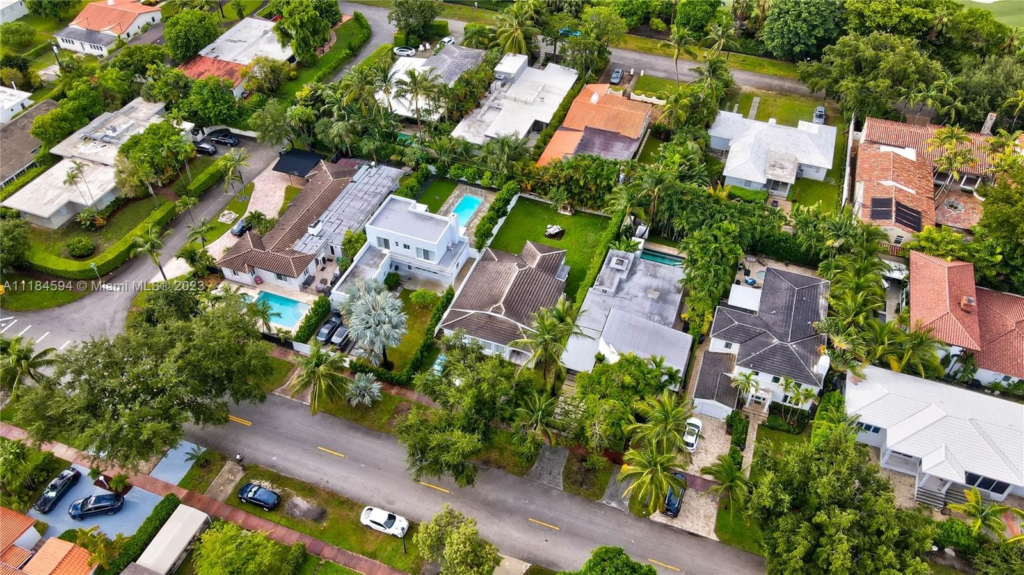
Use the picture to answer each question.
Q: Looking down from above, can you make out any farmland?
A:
No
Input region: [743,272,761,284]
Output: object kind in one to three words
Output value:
umbrella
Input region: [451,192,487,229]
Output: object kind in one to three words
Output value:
swimming pool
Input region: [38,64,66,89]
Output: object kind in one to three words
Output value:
shed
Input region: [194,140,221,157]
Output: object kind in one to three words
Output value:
car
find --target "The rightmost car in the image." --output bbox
[812,105,827,124]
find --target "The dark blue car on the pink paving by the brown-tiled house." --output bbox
[227,214,257,237]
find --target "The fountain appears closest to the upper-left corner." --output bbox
[213,209,241,225]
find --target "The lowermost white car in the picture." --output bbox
[358,505,409,539]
